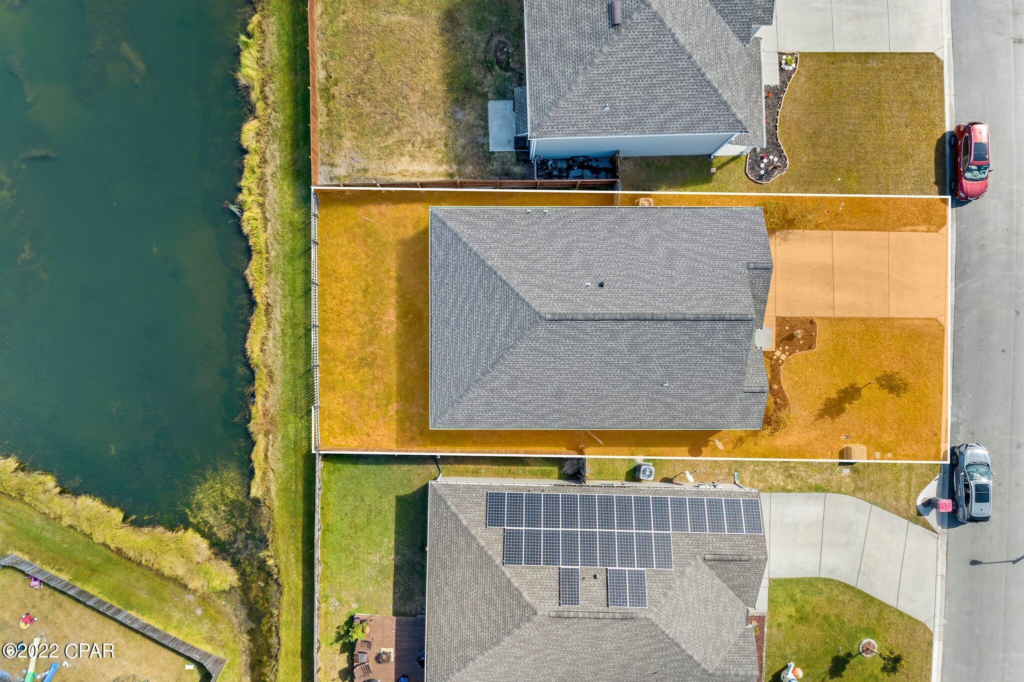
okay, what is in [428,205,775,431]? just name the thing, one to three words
house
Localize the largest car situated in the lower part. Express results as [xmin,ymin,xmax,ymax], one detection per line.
[949,443,995,523]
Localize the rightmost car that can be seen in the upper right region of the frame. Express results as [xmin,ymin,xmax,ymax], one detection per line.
[949,119,994,200]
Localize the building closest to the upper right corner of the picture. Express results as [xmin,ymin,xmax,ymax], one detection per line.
[512,0,777,163]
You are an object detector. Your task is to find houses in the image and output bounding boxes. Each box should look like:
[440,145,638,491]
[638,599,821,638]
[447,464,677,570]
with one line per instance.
[512,0,777,163]
[428,205,775,431]
[422,464,772,682]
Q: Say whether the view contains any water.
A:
Yes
